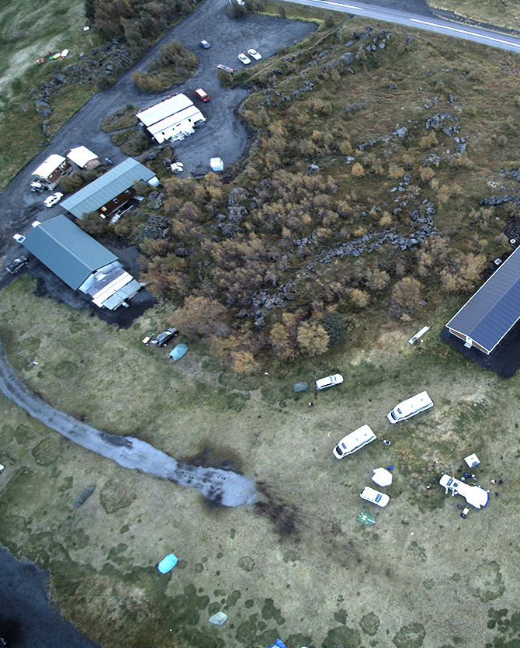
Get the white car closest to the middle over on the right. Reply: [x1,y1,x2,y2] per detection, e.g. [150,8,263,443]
[315,374,345,391]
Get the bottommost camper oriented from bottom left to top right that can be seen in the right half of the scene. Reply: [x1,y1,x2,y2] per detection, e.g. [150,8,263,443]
[334,420,379,462]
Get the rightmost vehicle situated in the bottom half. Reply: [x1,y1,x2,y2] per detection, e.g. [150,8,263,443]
[439,476,468,497]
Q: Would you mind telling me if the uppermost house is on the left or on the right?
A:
left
